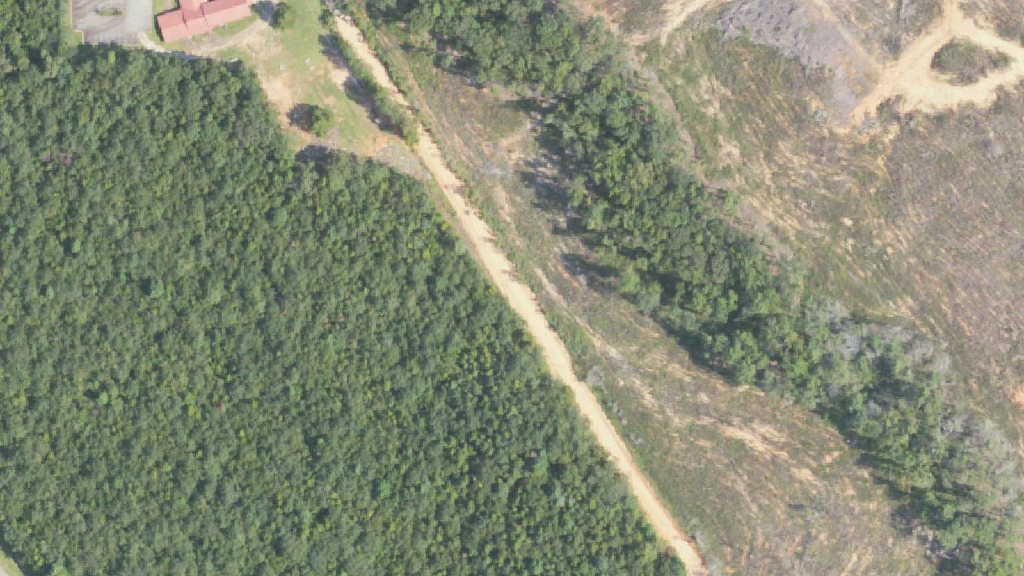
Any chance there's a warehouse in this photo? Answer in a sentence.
No, the photo shows no warehouse.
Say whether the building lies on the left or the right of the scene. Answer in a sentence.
The building is on the left side of the image.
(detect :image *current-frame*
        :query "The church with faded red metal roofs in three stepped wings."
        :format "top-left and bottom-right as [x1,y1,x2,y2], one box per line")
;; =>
[158,0,254,43]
